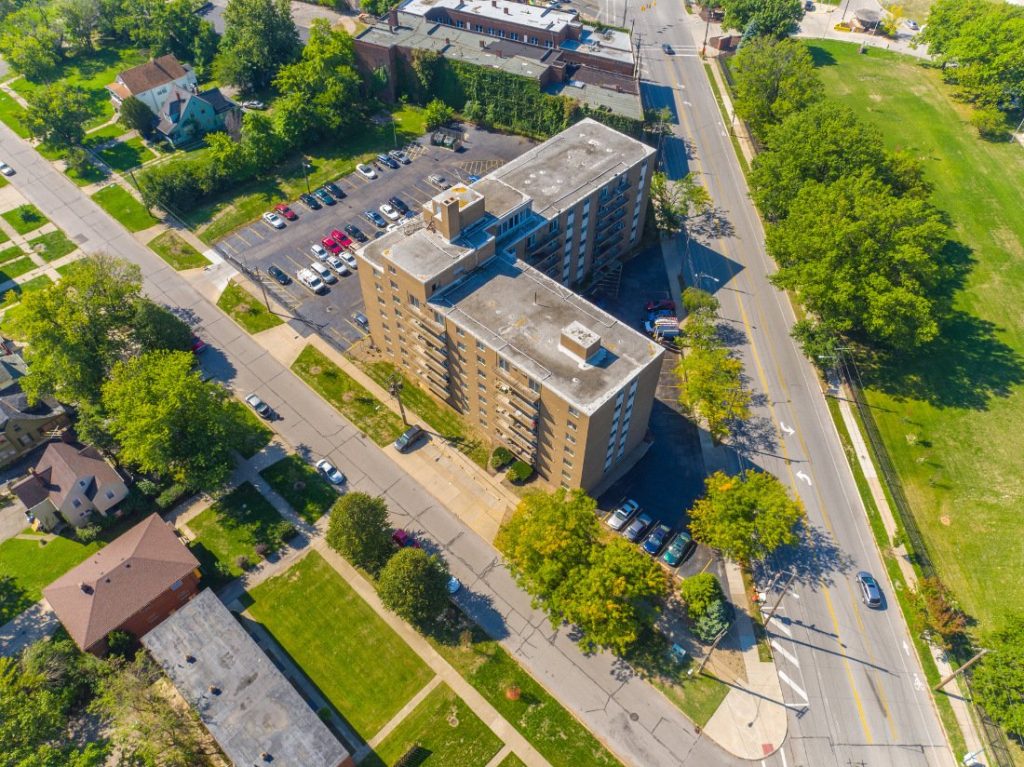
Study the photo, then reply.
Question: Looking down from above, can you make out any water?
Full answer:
No, the scene doesn't show any water.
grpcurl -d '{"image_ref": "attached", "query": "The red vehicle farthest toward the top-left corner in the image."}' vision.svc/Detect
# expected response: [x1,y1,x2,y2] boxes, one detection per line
[276,204,296,220]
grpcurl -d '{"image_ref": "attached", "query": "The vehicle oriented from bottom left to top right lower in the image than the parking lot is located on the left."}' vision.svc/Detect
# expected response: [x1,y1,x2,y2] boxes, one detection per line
[394,423,425,450]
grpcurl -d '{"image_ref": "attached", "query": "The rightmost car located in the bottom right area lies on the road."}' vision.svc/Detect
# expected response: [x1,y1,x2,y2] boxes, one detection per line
[854,572,884,609]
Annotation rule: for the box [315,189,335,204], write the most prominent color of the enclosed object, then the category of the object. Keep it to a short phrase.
blue car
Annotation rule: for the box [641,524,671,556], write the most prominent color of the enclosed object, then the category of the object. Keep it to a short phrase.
blue car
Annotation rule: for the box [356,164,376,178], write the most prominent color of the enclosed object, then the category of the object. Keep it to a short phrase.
white car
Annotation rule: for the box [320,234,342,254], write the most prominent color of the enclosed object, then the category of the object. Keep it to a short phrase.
red car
